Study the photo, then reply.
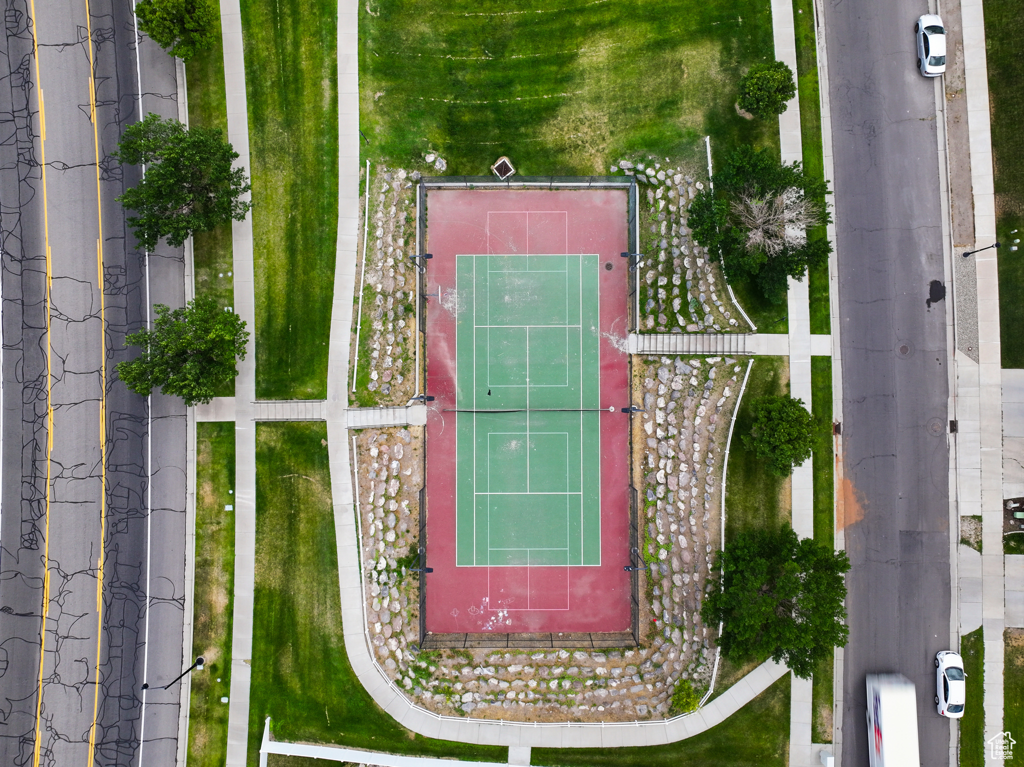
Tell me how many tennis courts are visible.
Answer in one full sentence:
Just 1 tennis court appears in this view.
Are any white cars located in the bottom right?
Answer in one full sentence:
Yes, there is a white car in the bottom right.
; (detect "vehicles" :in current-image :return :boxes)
[932,650,970,717]
[912,15,949,80]
[865,670,919,767]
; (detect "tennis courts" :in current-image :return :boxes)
[426,190,631,633]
